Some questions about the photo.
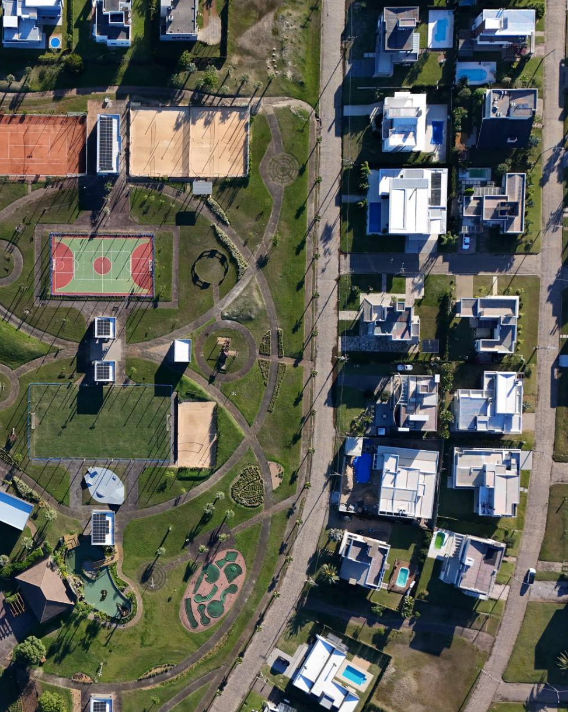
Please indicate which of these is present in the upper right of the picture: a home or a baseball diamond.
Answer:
home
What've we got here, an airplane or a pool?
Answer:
pool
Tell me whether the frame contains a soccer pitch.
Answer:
Yes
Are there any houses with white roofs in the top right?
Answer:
Yes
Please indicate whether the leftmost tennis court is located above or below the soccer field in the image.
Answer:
above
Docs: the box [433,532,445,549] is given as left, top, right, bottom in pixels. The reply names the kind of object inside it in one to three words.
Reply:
swimming pool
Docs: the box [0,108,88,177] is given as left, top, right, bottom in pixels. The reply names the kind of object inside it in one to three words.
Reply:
tennis court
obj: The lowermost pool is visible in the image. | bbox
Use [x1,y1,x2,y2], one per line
[340,664,369,687]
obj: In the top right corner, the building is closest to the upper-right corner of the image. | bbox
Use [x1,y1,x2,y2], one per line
[467,9,535,61]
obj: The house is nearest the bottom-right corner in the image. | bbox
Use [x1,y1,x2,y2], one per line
[437,532,506,596]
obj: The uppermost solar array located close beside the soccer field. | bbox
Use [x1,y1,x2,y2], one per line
[96,363,109,380]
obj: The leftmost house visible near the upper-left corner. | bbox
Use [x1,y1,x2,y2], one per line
[2,0,62,51]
